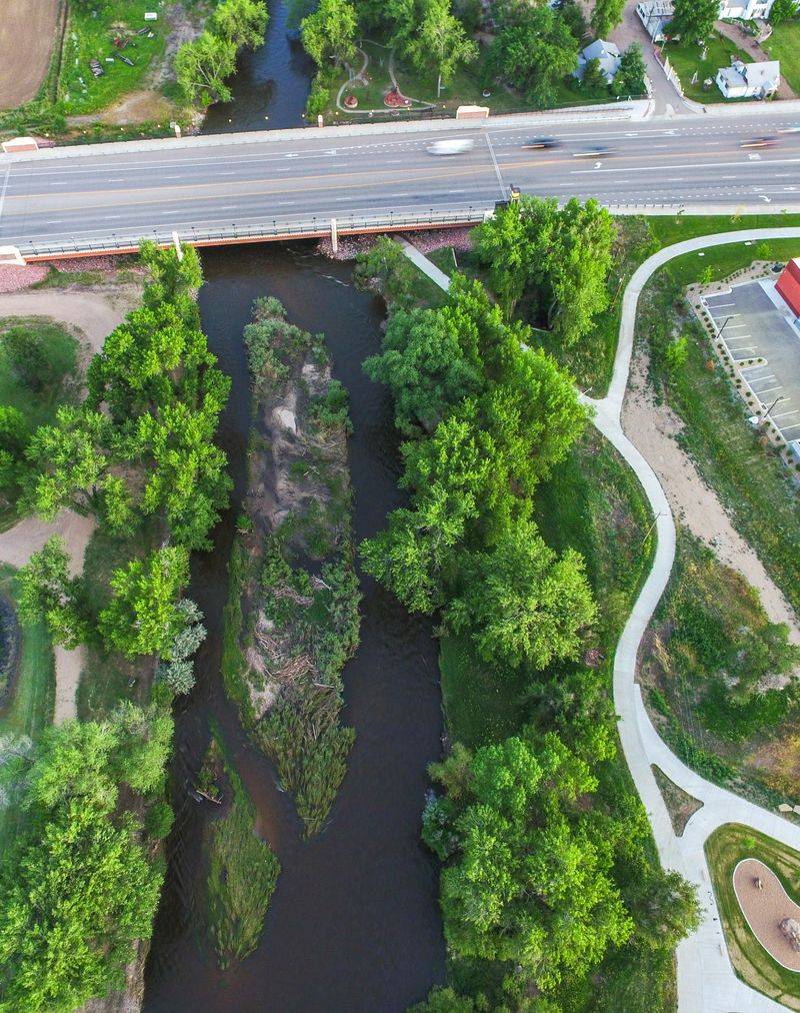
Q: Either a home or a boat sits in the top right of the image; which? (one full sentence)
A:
Looking in the top right of the image, you will find a home.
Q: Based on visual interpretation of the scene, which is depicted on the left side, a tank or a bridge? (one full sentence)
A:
There is a bridge on the left side.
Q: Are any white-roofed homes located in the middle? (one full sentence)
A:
No, there is no white-roofed home in the middle.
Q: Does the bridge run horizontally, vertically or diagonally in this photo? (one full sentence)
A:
The bridge has been laid out horizontally relative to the frame.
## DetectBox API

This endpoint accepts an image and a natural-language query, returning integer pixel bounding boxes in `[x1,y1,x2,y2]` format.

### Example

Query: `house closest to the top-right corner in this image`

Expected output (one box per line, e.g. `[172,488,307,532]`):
[724,0,773,29]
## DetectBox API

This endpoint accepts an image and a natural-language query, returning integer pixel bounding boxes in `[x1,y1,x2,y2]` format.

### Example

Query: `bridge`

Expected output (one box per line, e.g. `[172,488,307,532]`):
[24,113,483,261]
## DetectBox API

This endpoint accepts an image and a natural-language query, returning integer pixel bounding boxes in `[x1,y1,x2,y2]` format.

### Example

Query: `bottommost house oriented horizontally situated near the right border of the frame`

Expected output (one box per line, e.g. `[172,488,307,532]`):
[707,58,791,99]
